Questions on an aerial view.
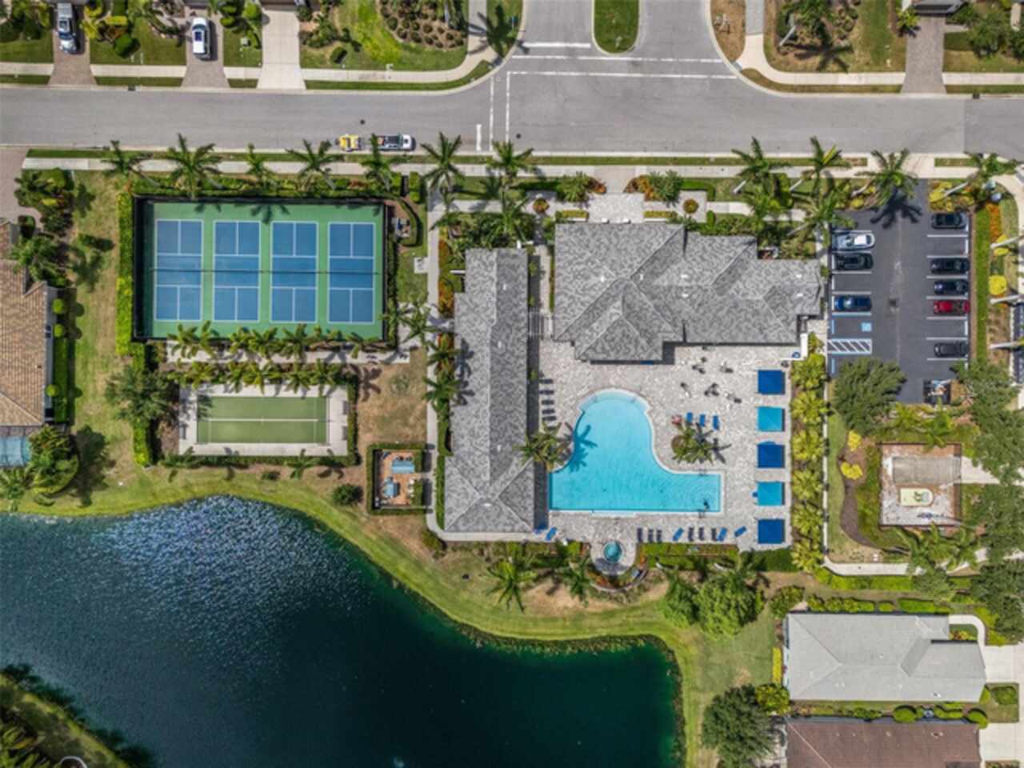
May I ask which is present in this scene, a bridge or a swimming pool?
swimming pool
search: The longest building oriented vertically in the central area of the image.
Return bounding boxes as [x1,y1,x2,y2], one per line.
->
[444,246,535,532]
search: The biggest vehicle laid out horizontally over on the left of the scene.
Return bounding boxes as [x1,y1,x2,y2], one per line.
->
[371,132,415,152]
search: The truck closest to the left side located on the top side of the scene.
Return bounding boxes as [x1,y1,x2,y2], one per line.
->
[57,3,80,52]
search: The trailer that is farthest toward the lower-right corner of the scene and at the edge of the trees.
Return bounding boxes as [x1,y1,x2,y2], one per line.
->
[926,377,955,405]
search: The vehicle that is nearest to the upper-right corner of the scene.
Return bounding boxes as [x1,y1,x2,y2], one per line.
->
[928,212,963,229]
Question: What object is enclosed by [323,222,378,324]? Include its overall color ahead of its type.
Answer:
blue sports court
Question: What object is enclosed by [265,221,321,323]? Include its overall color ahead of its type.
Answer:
blue sports court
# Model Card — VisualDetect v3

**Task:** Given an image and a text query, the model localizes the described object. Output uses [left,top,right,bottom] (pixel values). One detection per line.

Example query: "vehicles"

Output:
[833,253,872,271]
[928,212,963,229]
[931,279,966,296]
[833,232,874,250]
[928,257,966,275]
[932,299,968,316]
[832,295,871,313]
[932,341,966,358]
[191,20,211,59]
[57,3,80,52]
[371,132,415,152]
